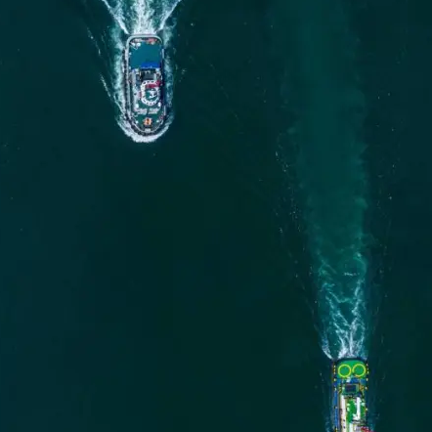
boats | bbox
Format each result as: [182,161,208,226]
[331,360,376,432]
[124,37,165,139]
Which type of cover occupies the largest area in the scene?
water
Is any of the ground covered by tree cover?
No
